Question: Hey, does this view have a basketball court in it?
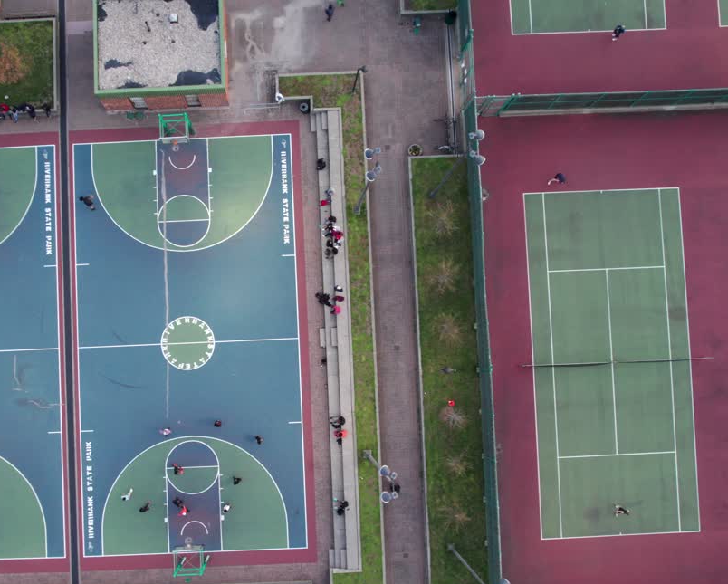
Yes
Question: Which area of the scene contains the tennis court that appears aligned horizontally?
top right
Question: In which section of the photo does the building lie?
top left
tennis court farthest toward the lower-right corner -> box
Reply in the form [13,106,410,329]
[523,188,700,540]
